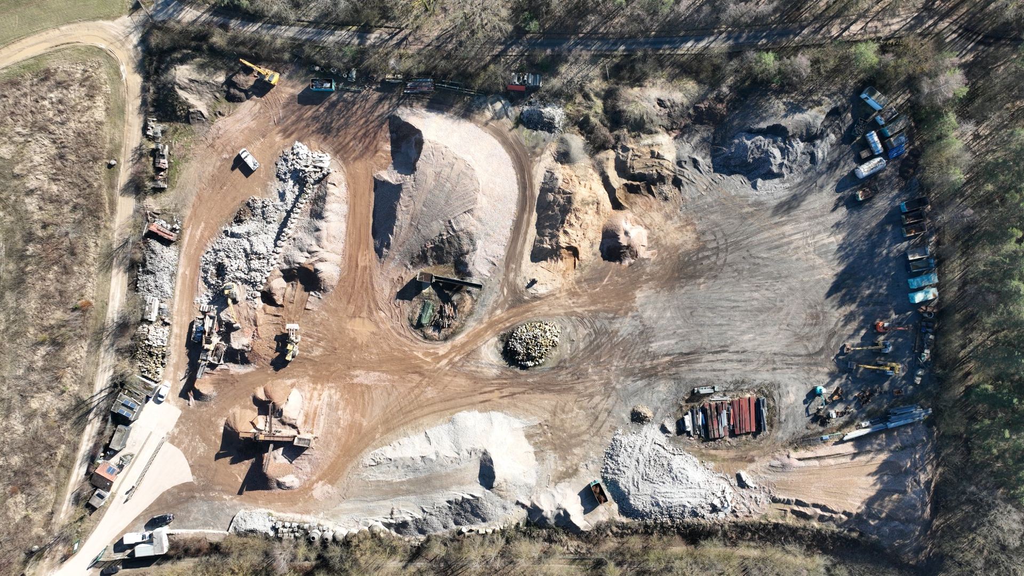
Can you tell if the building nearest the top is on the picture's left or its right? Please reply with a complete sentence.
The building nearest the top sits on the left side.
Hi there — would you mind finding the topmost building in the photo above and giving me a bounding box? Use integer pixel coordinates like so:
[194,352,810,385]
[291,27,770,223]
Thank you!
[111,390,149,421]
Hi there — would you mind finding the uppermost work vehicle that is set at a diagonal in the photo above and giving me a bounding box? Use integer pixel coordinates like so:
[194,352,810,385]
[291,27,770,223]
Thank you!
[235,53,283,91]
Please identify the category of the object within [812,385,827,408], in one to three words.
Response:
work vehicle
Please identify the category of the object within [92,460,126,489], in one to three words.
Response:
house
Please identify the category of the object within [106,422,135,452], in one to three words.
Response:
shed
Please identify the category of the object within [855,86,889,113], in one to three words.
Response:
camper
